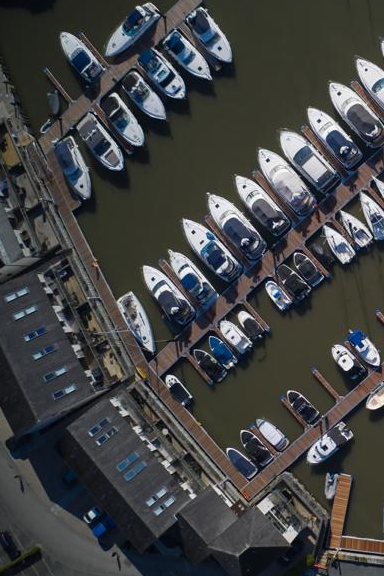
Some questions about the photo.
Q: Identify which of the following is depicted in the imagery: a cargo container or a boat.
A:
boat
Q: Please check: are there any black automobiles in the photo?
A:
Yes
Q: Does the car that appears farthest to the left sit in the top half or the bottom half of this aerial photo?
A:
bottom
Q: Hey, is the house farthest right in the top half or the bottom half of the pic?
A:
bottom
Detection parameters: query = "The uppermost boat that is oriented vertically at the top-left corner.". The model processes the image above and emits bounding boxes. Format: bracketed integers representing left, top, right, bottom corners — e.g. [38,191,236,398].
[50,89,62,116]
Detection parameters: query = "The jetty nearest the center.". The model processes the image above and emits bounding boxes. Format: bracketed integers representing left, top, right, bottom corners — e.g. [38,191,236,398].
[159,258,202,310]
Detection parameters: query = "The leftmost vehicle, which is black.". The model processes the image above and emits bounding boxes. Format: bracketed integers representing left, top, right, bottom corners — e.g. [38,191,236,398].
[0,527,24,561]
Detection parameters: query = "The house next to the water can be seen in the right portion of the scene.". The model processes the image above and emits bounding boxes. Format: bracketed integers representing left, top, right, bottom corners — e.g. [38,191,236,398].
[162,475,304,576]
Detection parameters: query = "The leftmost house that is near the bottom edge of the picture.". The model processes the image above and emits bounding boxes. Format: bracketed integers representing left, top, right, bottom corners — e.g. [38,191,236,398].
[59,386,210,557]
